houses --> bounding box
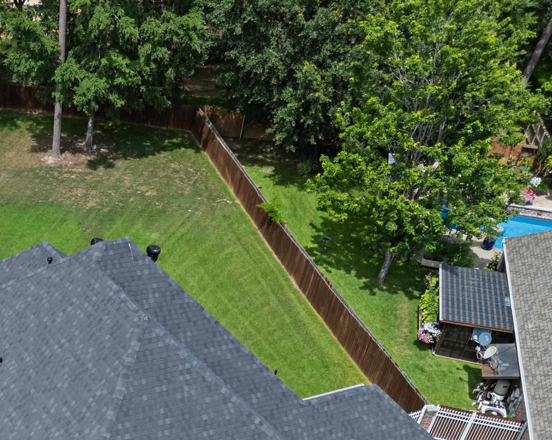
[501,224,552,440]
[0,235,440,440]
